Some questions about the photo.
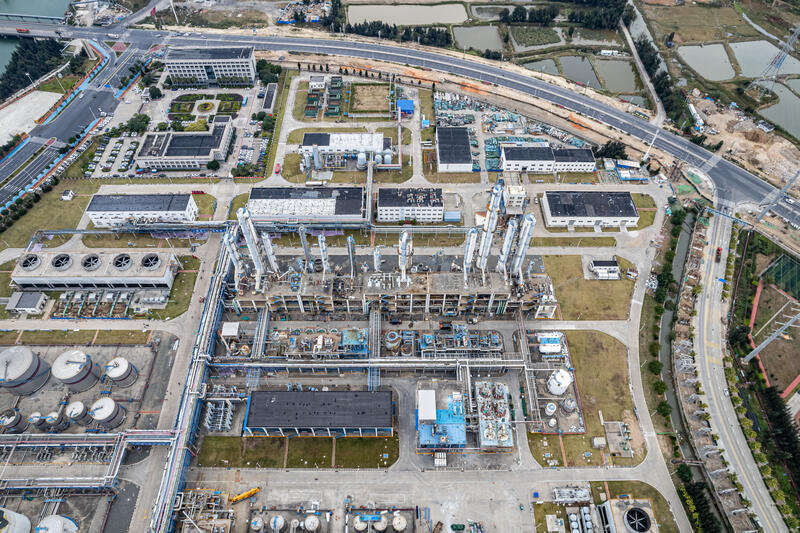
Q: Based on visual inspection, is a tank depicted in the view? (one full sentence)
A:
Yes, the frame does contain a tank.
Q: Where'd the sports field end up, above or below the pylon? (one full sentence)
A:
The position of the sports field is below the pylon.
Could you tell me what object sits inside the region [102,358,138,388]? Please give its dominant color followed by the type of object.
white storage tank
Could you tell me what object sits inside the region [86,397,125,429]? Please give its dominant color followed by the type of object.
white storage tank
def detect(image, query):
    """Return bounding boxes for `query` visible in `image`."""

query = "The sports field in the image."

[748,278,800,399]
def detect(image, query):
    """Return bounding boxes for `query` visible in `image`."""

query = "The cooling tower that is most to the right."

[592,499,661,533]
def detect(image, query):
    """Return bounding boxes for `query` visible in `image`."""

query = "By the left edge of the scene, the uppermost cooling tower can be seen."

[10,249,186,292]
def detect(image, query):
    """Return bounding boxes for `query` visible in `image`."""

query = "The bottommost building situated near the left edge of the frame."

[5,292,52,314]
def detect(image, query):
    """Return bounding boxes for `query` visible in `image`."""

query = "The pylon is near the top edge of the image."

[745,23,800,99]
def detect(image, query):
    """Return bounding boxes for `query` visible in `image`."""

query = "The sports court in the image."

[759,252,800,298]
